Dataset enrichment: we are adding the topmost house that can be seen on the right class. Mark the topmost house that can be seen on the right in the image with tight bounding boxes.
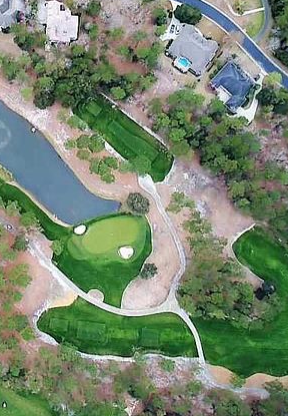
[165,22,223,76]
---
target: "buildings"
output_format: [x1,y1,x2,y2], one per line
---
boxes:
[0,0,16,27]
[208,61,255,111]
[46,0,78,42]
[165,22,223,76]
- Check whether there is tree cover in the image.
Yes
